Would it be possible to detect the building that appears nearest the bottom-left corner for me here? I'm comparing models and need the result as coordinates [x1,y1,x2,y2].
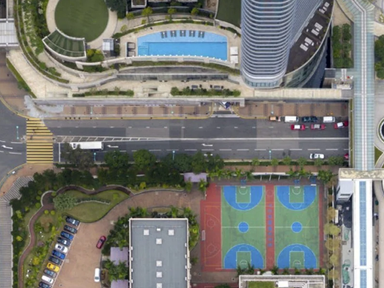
[129,218,193,288]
